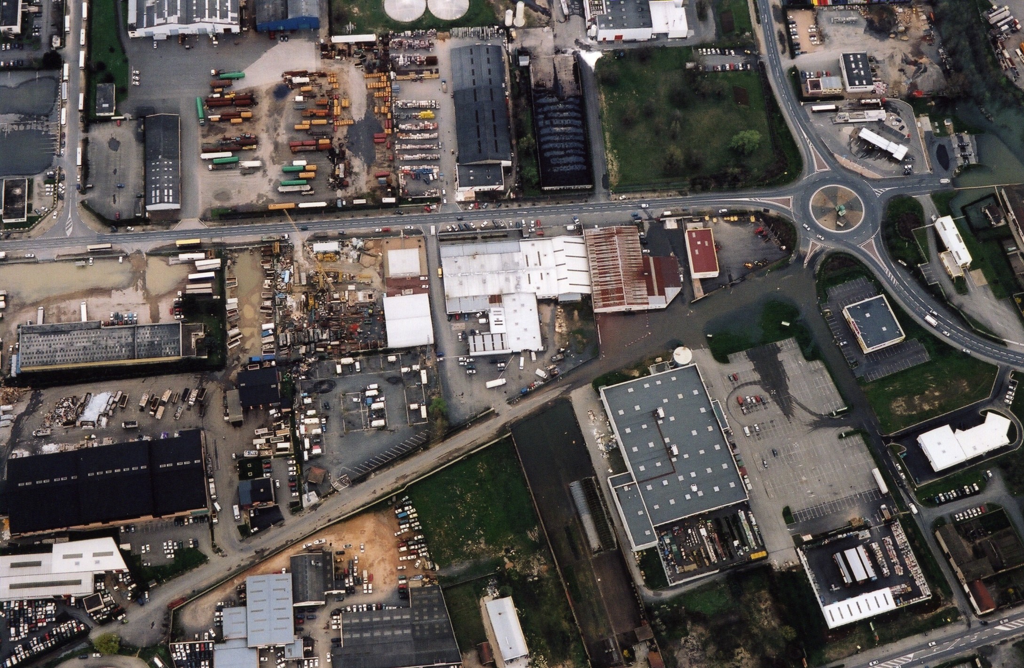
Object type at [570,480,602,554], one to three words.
greenhouse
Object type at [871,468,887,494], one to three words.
vehicle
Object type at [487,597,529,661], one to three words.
house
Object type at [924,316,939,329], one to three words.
vehicle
